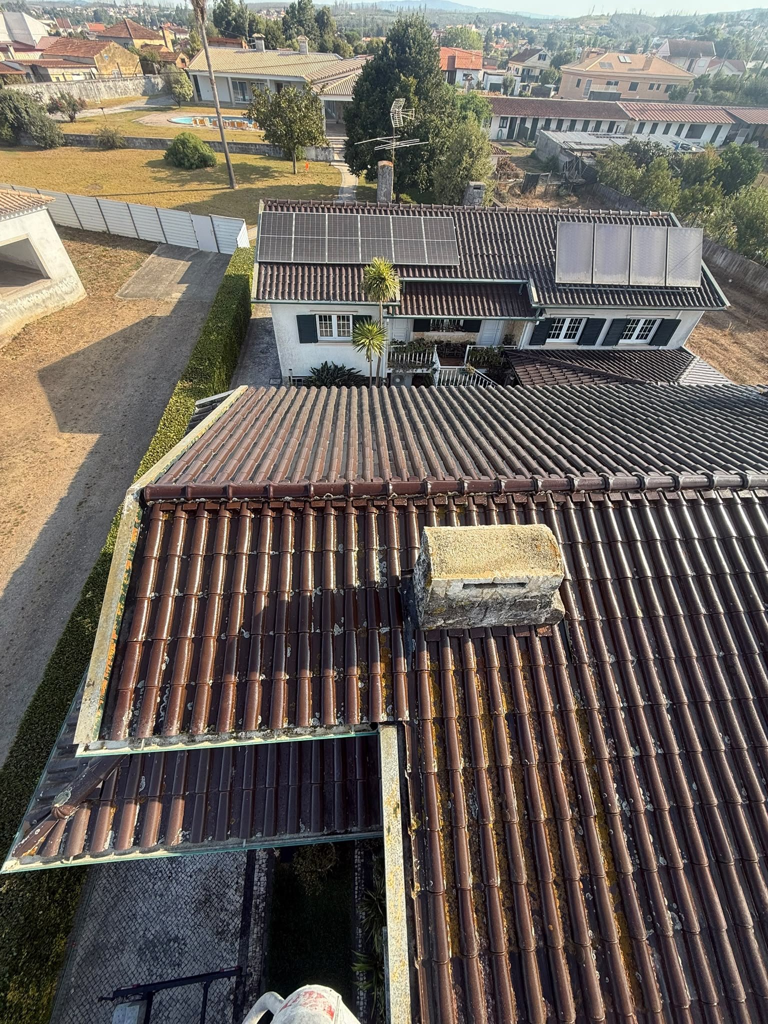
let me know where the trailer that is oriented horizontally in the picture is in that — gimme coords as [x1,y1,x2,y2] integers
[86,965,257,1024]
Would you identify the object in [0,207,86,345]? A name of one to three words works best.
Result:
house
